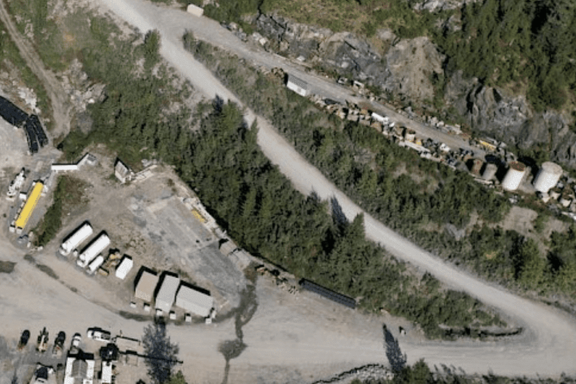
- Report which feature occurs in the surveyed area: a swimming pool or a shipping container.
shipping container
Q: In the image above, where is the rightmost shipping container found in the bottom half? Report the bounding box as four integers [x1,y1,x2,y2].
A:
[300,271,359,309]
